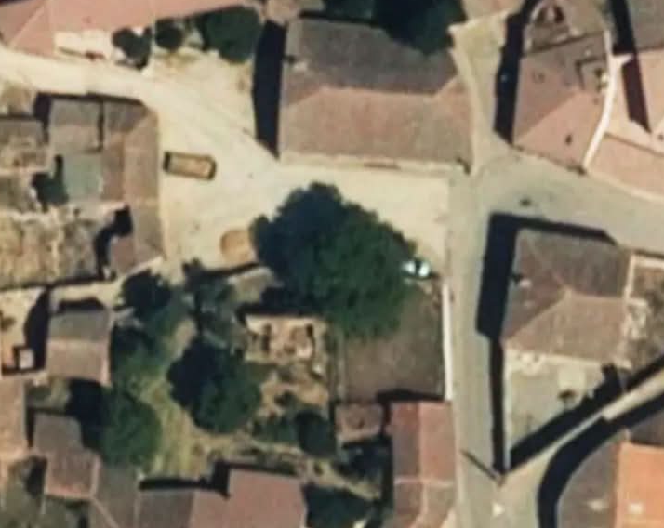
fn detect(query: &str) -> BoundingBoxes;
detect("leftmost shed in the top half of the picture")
[0,120,42,144]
